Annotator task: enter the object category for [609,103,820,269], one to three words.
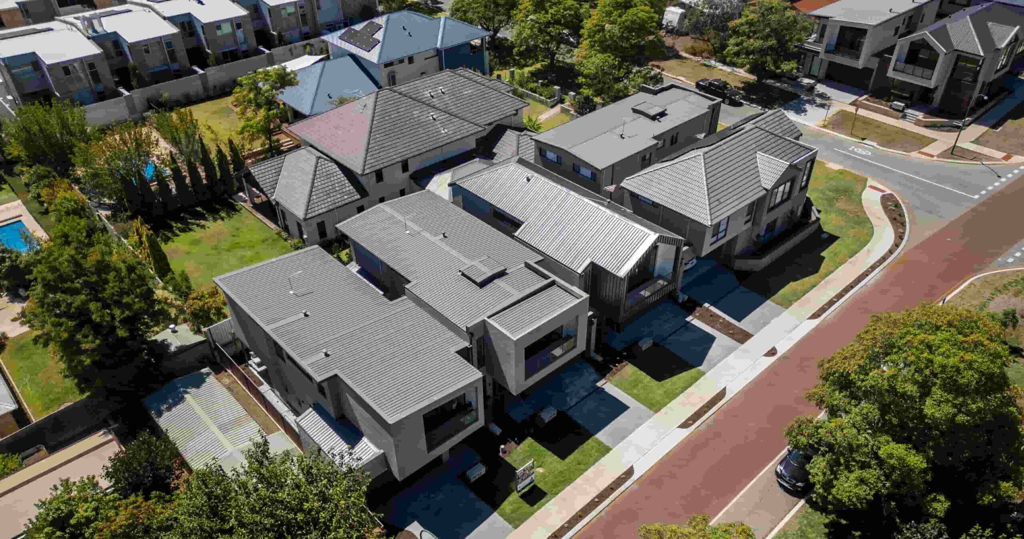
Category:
house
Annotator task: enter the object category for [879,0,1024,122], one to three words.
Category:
house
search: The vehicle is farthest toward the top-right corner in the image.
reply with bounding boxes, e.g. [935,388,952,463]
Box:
[694,81,741,106]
